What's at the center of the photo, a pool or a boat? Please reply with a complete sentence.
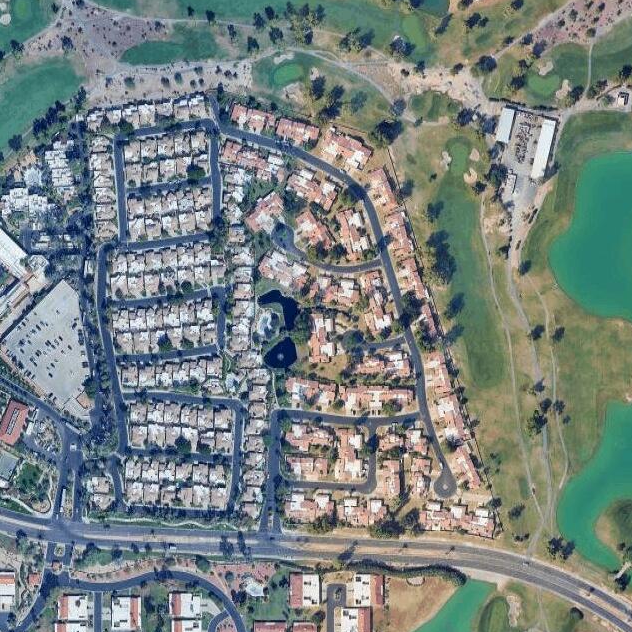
The feature located at the center of the photo is a pool.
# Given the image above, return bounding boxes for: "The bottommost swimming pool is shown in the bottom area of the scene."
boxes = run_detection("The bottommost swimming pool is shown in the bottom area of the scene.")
[246,576,266,597]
